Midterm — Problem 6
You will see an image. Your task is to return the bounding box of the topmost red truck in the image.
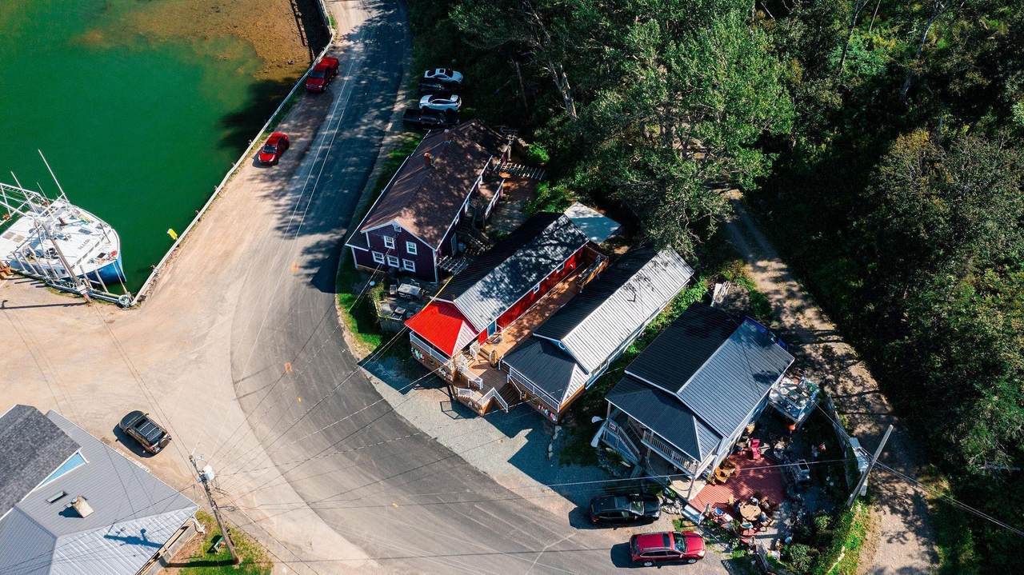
[301,54,341,90]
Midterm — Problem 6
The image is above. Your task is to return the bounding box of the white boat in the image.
[0,139,130,283]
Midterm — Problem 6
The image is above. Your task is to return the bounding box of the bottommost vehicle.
[623,522,708,564]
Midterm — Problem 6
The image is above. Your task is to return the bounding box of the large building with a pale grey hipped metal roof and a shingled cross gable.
[0,396,202,575]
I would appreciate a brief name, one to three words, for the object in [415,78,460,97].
car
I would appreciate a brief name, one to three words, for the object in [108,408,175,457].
car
